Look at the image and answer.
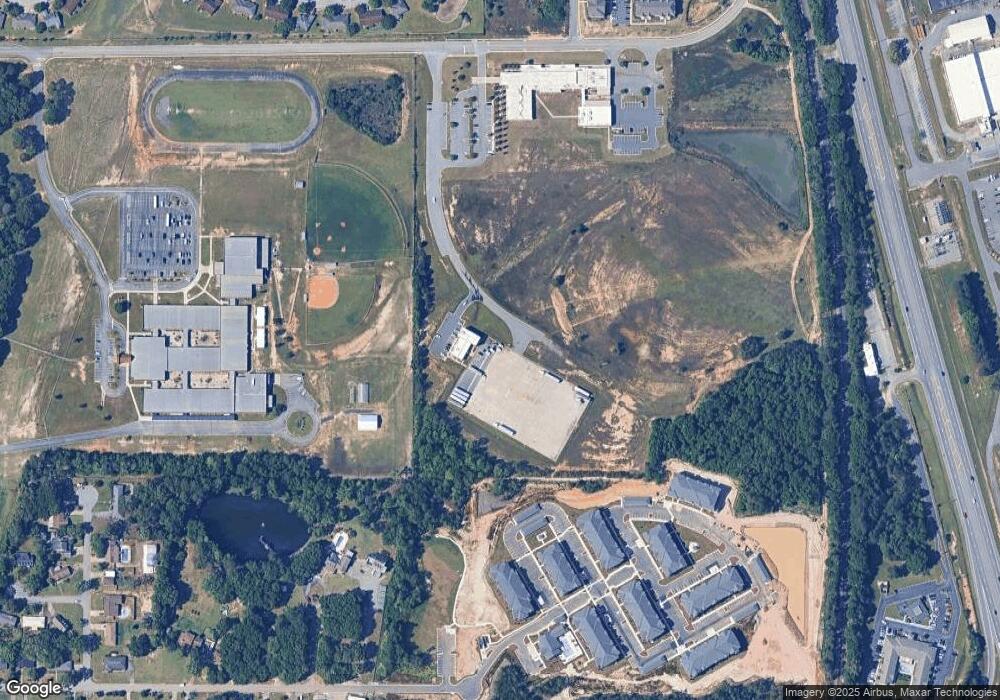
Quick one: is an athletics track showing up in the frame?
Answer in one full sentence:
Yes, an athletics track is visible in the scene.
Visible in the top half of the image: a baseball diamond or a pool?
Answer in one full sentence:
You can see a baseball diamond in the top half of the image.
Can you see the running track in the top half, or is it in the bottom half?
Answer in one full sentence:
Seen from above, the running track lies in the top half of the view.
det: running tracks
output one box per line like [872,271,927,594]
[142,69,321,153]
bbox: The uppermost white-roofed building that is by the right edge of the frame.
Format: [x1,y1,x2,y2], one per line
[944,16,993,49]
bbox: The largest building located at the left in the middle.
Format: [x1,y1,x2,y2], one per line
[131,305,271,420]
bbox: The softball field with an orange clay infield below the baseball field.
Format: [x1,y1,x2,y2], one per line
[304,272,376,346]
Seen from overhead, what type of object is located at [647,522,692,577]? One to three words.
building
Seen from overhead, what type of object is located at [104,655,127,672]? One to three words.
house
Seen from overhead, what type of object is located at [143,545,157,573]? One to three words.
shed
